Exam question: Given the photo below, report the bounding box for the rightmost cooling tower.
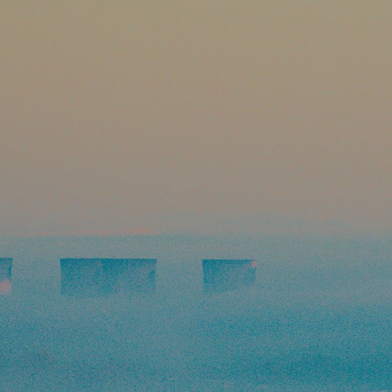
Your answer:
[188,260,271,354]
